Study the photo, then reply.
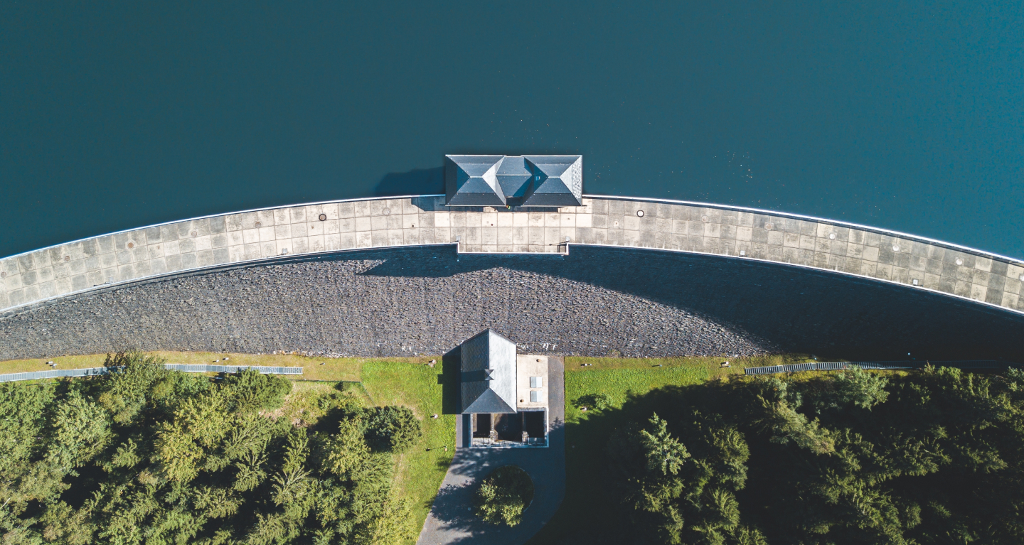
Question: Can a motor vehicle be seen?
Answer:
No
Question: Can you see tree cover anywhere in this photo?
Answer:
Yes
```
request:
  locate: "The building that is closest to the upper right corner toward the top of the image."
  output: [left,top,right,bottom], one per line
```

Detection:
[445,154,583,207]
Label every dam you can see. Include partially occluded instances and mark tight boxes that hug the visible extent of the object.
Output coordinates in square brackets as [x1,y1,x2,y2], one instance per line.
[0,193,1024,369]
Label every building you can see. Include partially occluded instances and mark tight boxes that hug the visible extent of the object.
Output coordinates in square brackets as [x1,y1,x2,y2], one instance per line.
[460,327,548,414]
[445,154,583,207]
